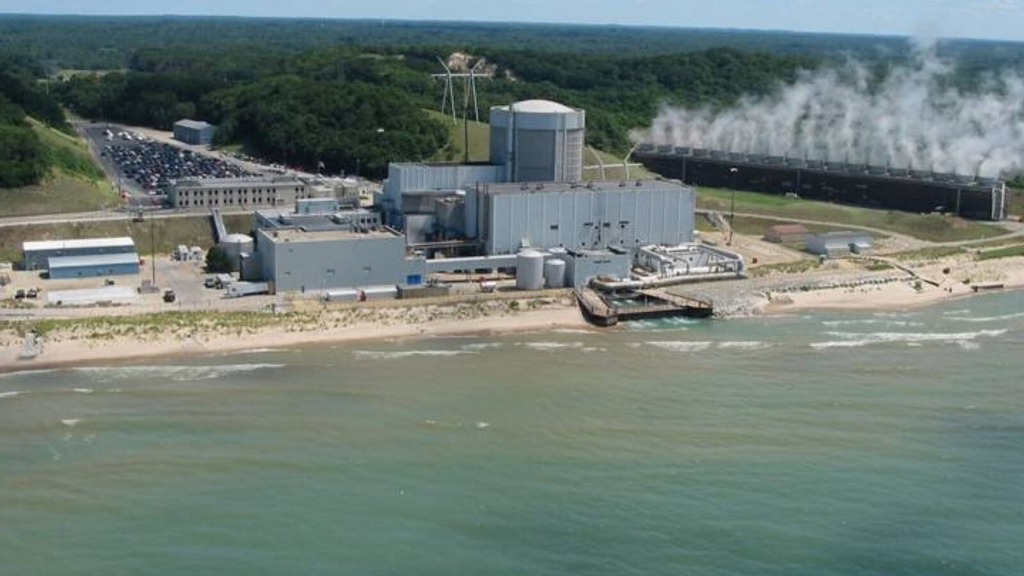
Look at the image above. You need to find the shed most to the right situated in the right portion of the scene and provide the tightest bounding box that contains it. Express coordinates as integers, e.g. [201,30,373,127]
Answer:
[795,232,876,255]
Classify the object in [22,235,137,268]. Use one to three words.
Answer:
building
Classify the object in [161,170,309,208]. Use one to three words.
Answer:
building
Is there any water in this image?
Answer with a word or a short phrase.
Yes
